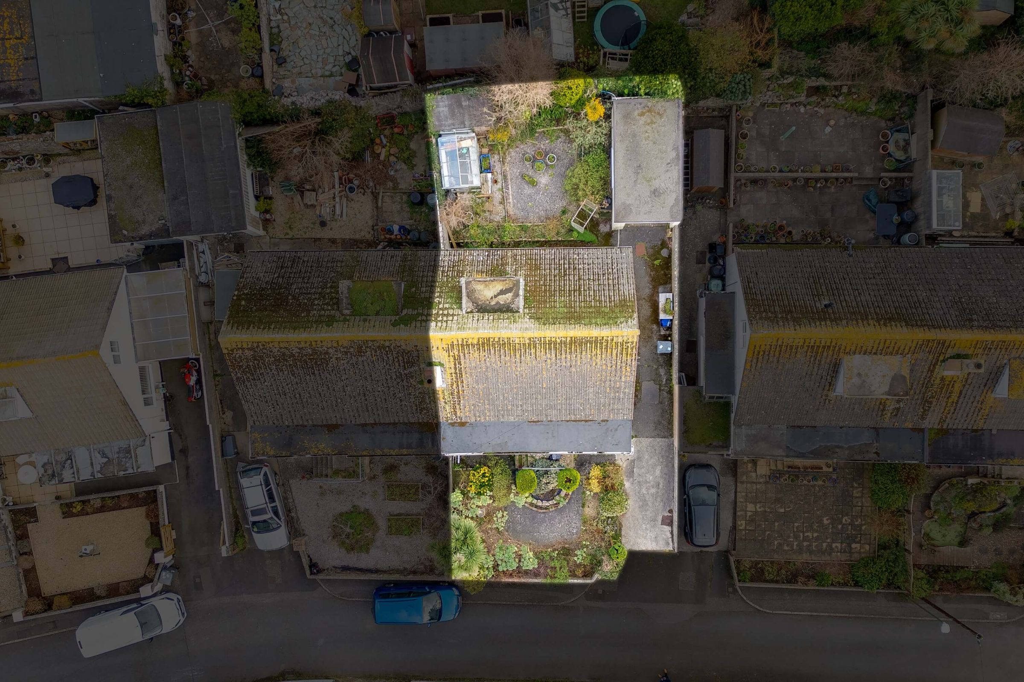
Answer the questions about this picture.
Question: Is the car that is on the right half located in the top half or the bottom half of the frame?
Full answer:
You can find the car that is on the right half in the bottom half.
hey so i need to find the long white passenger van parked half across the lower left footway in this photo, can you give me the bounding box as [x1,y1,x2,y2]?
[74,589,191,663]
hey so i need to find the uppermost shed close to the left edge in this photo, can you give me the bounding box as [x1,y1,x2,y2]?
[0,0,172,118]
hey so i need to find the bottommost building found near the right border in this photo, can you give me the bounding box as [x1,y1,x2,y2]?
[723,237,1024,467]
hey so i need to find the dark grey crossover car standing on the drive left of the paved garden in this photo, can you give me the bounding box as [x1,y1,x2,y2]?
[679,463,728,548]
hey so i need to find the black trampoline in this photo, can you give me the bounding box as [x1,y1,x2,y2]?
[594,0,653,55]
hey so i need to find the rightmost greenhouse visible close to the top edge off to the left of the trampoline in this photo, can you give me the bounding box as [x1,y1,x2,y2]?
[528,0,575,70]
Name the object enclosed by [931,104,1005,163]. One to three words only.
shed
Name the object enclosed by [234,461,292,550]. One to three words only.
car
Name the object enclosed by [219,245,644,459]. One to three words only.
house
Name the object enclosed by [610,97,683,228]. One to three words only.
building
